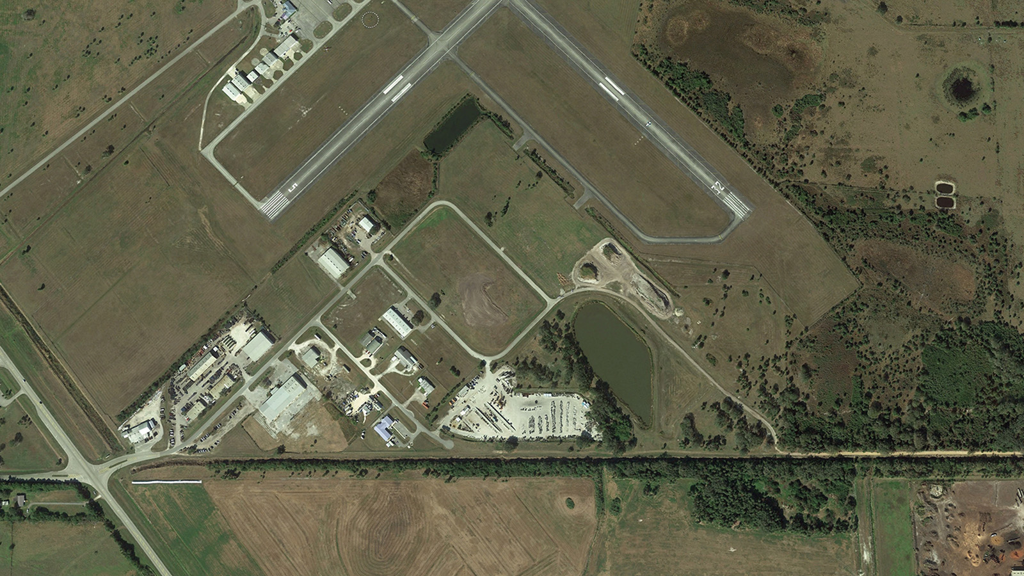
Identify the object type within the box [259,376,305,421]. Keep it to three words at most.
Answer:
building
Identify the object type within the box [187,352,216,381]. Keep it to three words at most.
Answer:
shed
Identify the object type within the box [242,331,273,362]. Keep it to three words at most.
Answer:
building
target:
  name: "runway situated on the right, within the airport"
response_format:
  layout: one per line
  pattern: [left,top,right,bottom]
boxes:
[499,0,756,225]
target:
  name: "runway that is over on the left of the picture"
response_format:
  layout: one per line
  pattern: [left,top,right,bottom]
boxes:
[257,0,504,224]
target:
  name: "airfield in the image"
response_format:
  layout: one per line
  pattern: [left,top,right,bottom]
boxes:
[201,0,756,245]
